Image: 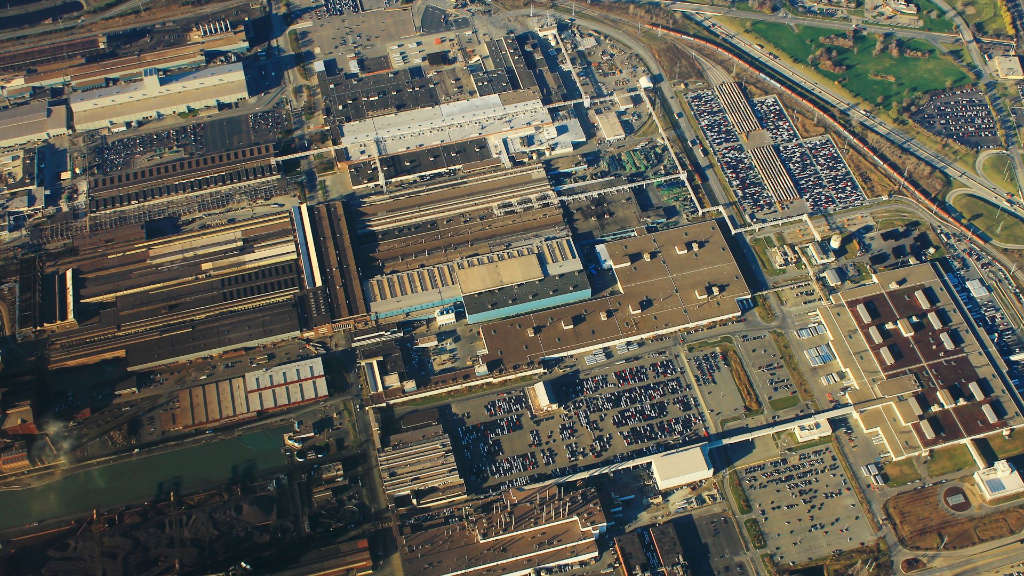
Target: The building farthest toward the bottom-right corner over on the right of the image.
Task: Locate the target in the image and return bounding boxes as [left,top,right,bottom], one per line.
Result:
[972,460,1024,500]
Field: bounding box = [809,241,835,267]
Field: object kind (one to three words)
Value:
building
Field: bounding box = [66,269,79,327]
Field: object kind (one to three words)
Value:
house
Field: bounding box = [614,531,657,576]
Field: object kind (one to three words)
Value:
building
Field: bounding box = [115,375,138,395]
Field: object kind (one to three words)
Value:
shed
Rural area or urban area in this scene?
urban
